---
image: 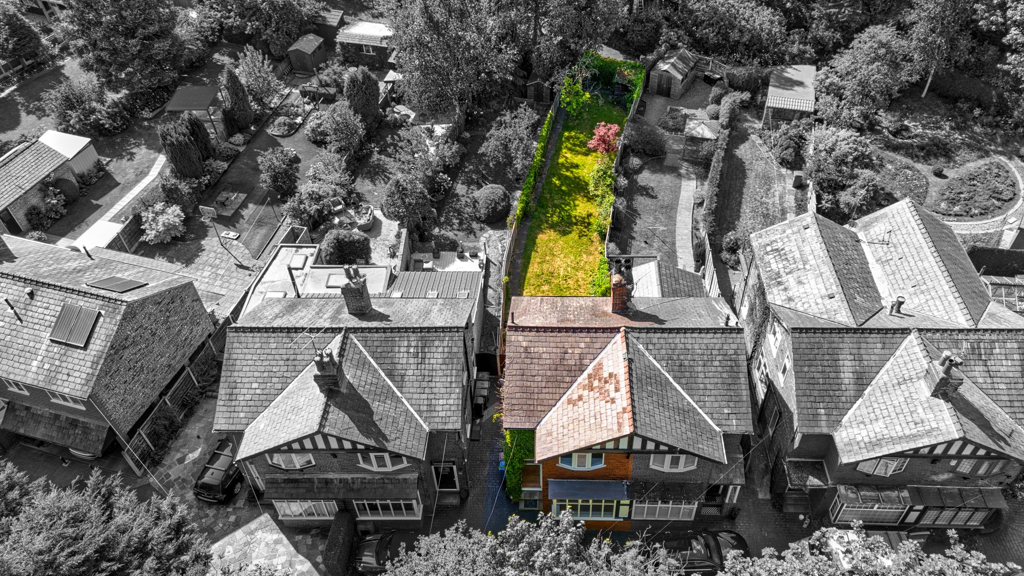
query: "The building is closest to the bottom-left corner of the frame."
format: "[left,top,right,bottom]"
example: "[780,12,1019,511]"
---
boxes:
[0,237,222,463]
